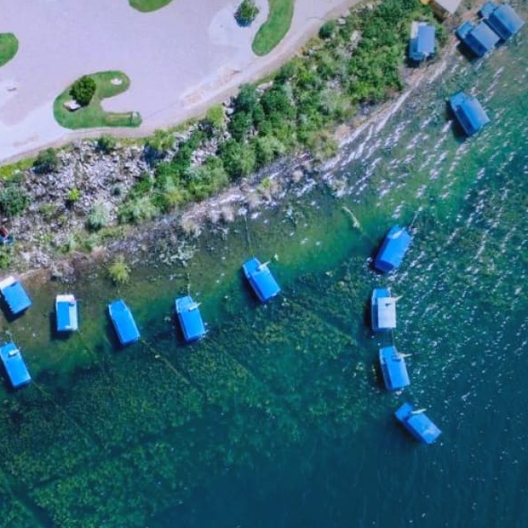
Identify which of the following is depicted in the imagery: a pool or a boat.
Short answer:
boat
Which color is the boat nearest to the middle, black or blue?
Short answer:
blue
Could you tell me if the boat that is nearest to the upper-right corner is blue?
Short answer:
Yes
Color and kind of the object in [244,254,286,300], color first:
blue boat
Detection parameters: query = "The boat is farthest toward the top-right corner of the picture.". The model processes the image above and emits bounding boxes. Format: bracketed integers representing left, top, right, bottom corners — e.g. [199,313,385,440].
[481,0,528,43]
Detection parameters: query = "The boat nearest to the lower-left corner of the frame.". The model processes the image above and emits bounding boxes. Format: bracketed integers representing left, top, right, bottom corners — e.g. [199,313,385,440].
[0,343,31,387]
